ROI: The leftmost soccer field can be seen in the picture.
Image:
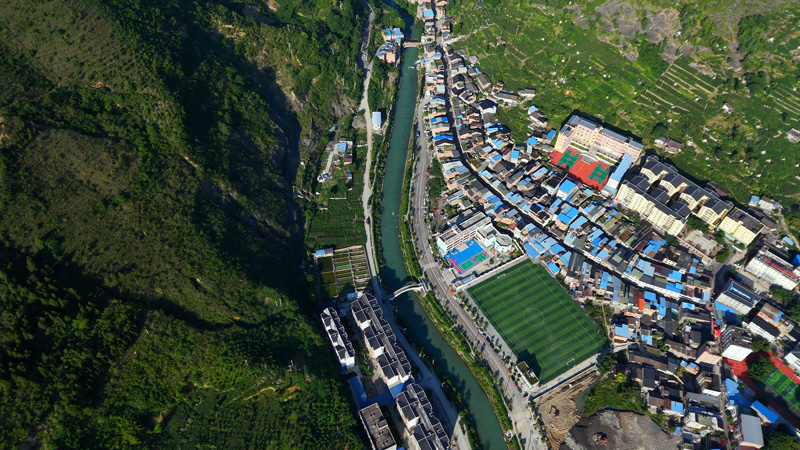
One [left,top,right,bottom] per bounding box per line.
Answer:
[466,259,605,390]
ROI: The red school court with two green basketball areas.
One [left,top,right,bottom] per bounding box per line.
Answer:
[550,147,611,190]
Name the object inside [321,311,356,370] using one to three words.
building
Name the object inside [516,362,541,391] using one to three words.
building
